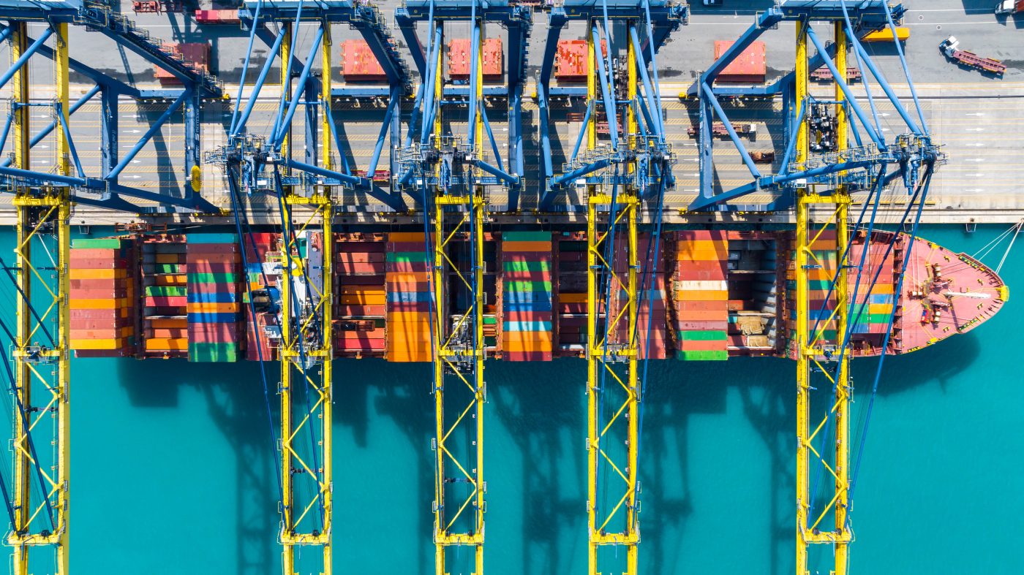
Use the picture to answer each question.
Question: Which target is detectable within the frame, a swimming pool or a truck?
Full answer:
This aerial view contains a truck.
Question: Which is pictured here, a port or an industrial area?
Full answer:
The area seen from above is a port.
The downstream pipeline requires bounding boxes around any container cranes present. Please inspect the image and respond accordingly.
[0,0,238,575]
[673,0,960,575]
[529,0,701,575]
[374,0,544,575]
[203,0,420,575]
